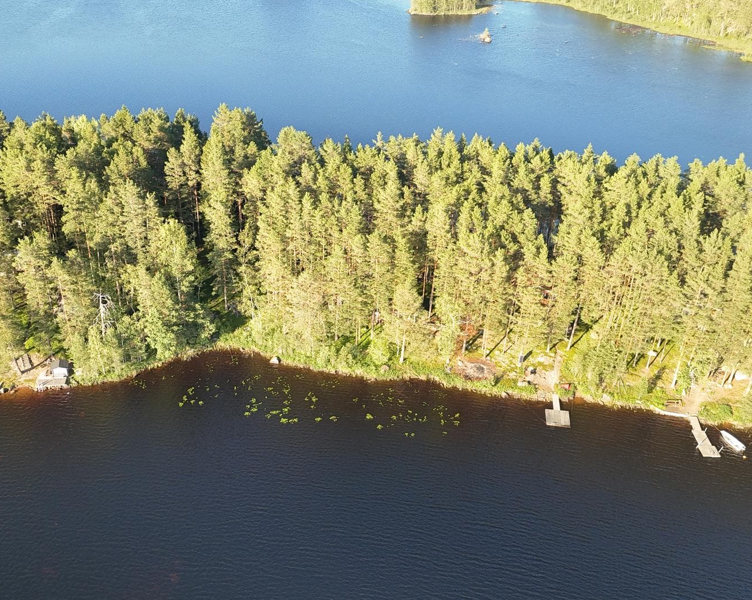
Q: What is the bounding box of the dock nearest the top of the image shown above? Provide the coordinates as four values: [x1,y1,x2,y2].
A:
[546,394,570,430]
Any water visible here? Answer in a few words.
Yes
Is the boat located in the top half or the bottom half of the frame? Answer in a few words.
bottom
